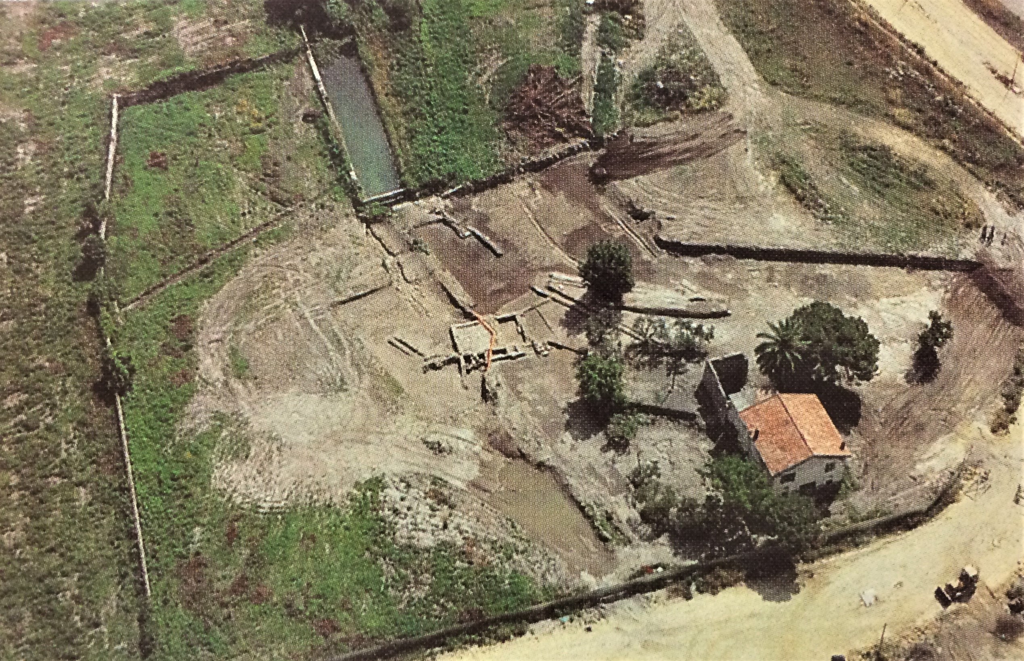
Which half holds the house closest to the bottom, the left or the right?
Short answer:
right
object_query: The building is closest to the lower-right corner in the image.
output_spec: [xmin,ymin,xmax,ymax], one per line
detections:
[716,393,852,496]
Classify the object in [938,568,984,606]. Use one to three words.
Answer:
work vehicle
